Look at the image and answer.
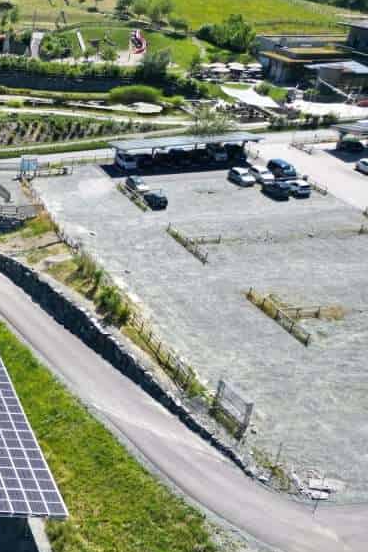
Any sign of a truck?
No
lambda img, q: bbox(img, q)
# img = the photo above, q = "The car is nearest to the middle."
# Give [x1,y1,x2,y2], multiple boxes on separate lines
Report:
[140,192,172,208]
